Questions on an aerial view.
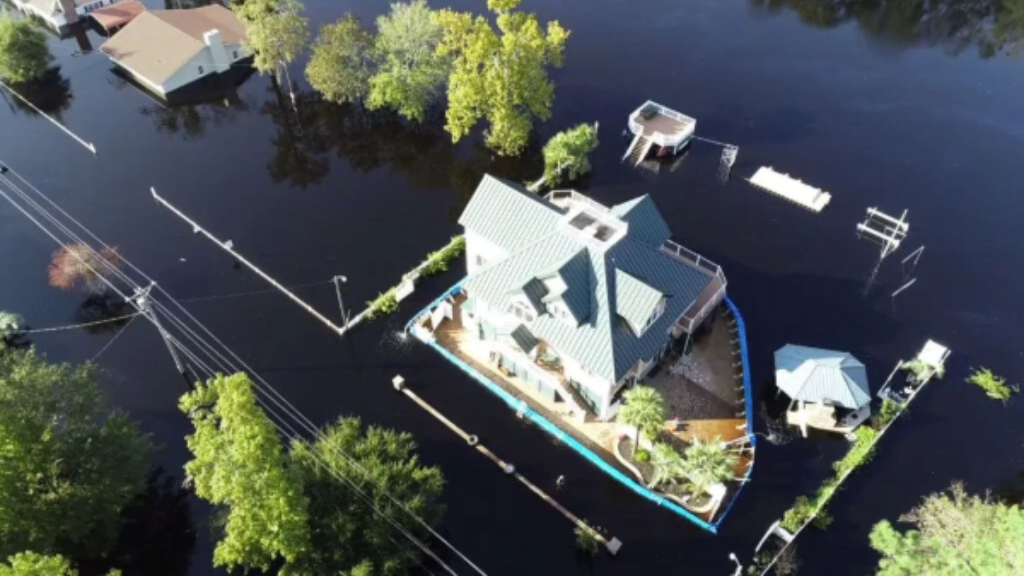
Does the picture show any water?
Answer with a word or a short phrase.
Yes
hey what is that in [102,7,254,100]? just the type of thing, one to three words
house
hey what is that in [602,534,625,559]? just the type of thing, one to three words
pier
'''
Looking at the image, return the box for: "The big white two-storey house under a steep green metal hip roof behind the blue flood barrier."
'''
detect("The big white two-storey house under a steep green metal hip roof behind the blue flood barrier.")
[457,171,726,425]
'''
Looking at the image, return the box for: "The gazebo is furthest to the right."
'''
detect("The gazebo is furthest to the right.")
[770,344,871,435]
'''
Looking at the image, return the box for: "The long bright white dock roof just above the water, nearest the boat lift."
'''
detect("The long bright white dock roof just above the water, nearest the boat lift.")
[742,167,831,215]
